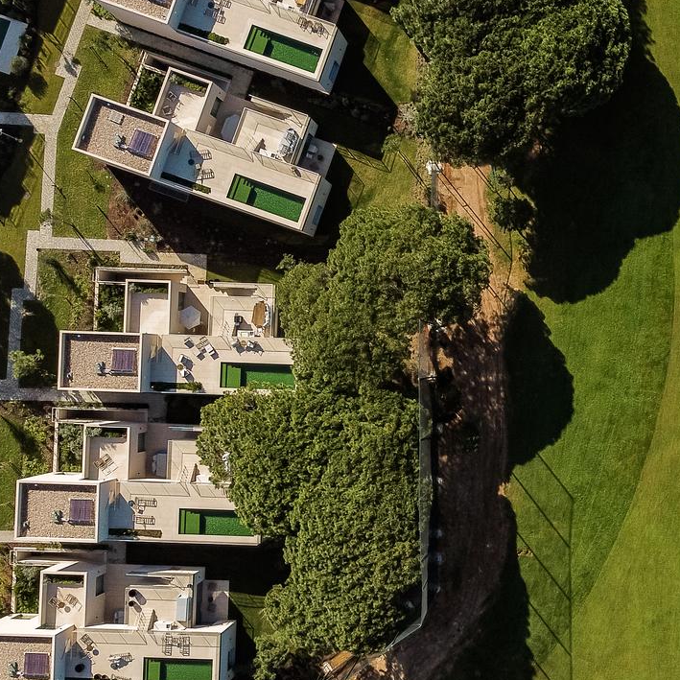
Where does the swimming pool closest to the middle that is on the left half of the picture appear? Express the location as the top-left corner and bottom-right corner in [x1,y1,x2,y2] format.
[220,362,293,389]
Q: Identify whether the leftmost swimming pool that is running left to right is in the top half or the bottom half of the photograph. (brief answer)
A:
bottom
